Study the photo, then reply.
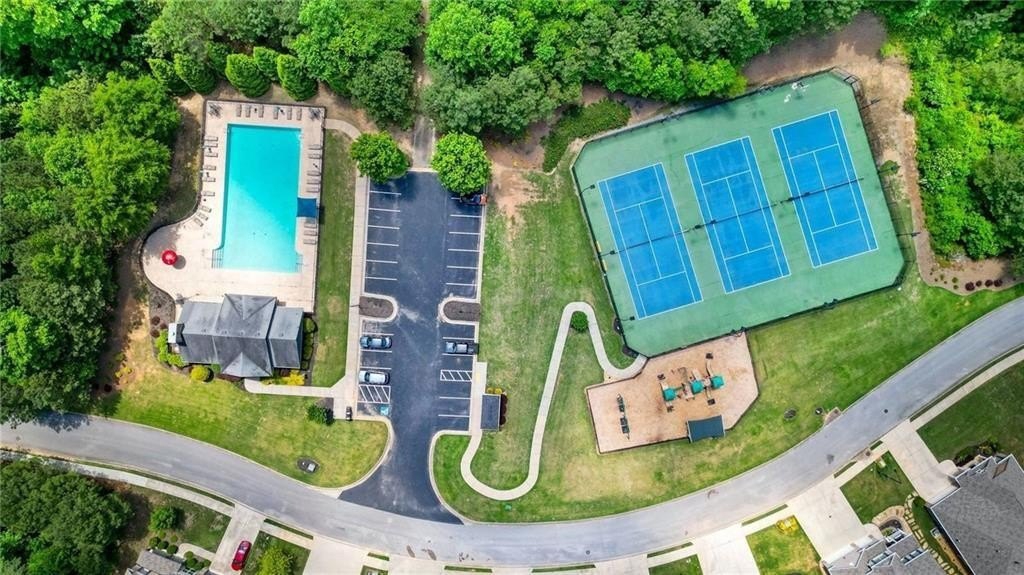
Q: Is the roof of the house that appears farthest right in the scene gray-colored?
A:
Yes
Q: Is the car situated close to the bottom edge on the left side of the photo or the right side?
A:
left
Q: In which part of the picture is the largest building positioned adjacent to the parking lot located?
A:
left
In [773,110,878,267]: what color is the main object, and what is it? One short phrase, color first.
blue tennis court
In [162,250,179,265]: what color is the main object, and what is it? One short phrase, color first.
red umbrella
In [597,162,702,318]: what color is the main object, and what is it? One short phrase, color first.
blue tennis court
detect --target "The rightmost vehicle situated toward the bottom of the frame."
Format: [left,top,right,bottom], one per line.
[446,341,478,356]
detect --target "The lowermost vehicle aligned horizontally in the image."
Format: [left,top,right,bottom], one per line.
[359,371,390,385]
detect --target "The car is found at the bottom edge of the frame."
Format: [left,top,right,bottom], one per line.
[231,540,252,571]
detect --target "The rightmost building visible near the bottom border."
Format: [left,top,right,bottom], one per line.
[924,450,1024,575]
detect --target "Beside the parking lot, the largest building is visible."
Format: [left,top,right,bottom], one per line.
[166,295,309,377]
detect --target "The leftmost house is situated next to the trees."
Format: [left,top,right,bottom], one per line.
[119,546,190,575]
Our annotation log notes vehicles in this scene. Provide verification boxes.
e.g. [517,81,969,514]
[446,341,478,356]
[346,407,351,421]
[359,371,390,385]
[361,335,392,349]
[231,540,252,571]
